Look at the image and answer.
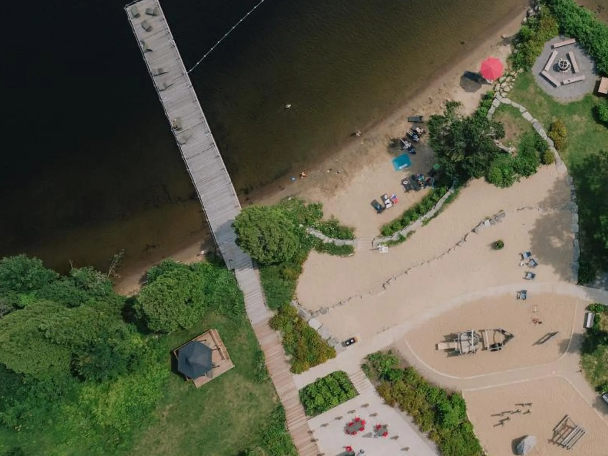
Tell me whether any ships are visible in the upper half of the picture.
No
